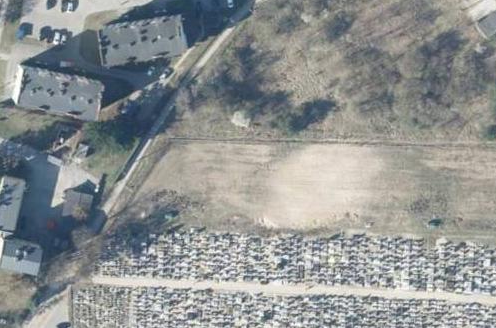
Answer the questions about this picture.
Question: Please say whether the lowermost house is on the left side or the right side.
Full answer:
The lowermost house appears in the left half of the scene.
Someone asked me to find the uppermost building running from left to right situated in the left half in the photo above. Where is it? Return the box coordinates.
[92,14,187,66]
